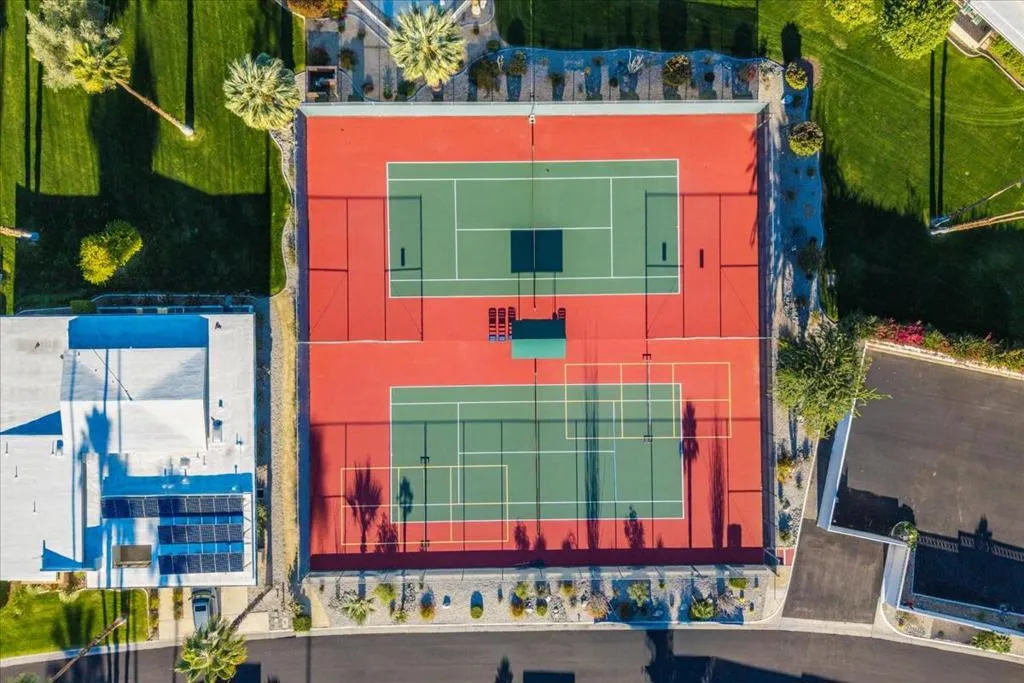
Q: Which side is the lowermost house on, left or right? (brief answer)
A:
left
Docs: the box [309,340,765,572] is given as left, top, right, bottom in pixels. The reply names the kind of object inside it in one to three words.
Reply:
tennis court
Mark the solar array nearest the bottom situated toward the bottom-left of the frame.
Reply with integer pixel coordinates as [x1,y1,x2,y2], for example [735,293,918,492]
[156,553,244,574]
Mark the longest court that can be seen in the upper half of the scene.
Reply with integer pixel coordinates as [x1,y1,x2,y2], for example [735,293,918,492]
[307,113,761,342]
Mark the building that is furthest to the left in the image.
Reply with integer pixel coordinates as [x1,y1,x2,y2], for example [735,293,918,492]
[0,313,259,586]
